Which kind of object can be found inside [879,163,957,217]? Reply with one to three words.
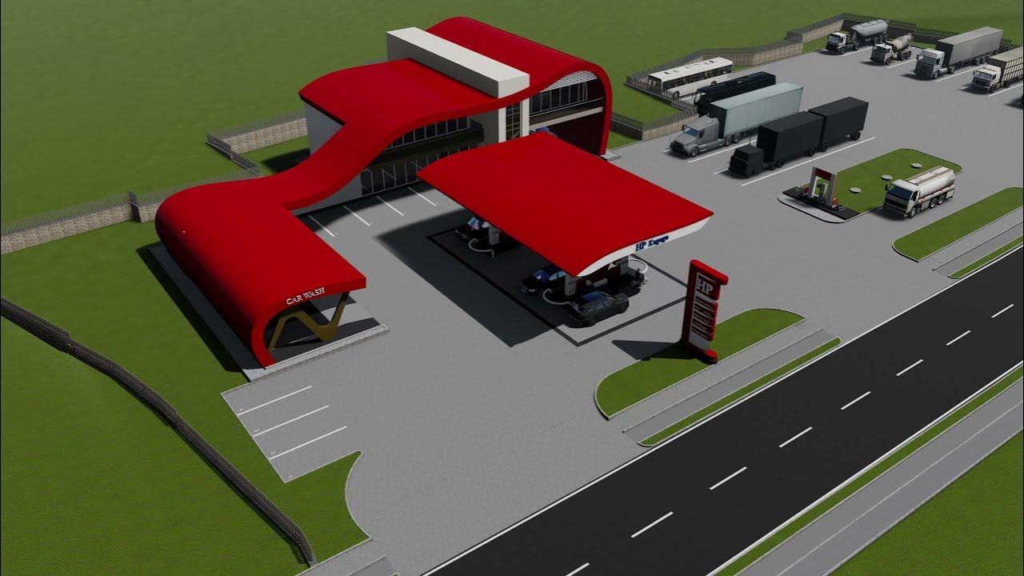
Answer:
truck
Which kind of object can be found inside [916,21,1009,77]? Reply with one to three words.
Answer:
truck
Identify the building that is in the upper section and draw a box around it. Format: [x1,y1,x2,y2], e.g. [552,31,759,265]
[153,17,623,382]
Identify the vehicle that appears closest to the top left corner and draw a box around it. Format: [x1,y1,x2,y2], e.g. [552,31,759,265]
[453,212,489,238]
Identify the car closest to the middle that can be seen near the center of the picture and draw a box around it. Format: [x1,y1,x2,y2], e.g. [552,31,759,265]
[519,262,565,295]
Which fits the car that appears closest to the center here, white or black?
black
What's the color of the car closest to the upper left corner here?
black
